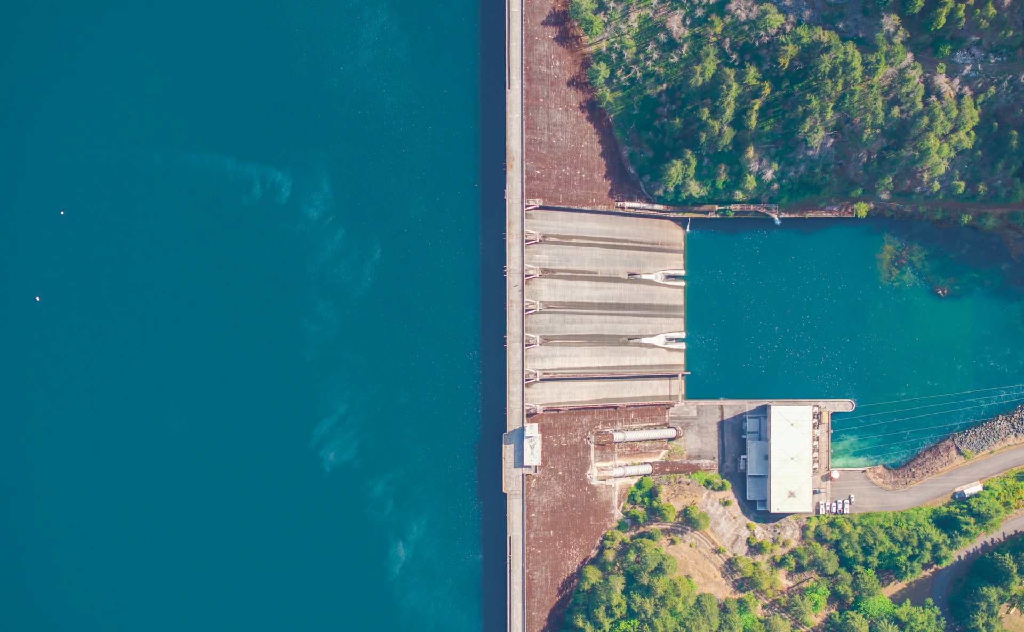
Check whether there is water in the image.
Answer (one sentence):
Yes, water can be seen from above here.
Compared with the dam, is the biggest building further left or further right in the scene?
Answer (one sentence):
The biggest building is to the right of the dam.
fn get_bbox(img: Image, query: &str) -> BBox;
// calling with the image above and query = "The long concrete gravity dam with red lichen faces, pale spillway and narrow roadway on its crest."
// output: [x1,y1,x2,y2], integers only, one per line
[502,0,693,632]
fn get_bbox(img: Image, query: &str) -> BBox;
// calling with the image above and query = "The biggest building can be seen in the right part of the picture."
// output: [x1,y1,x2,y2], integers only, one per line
[745,404,812,513]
